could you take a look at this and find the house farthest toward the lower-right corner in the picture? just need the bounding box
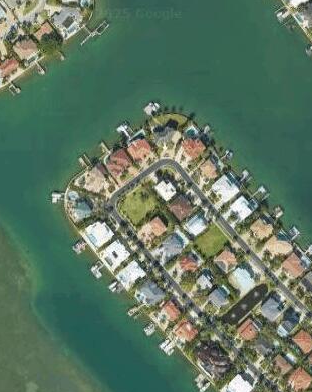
[289,366,312,392]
